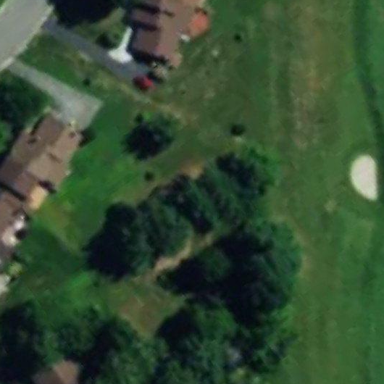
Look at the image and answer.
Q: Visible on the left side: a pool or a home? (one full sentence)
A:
The feature located on the left side is a home.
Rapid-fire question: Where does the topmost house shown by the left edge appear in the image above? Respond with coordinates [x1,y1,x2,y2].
[3,114,82,210]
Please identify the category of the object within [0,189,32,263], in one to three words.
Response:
house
